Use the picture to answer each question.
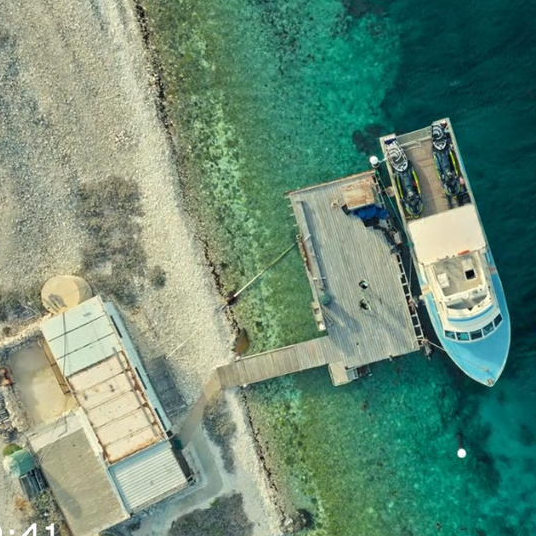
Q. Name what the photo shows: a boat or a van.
boat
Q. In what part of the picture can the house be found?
bottom left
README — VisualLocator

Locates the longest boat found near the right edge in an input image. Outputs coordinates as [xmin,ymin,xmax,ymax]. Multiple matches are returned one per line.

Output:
[379,117,512,389]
